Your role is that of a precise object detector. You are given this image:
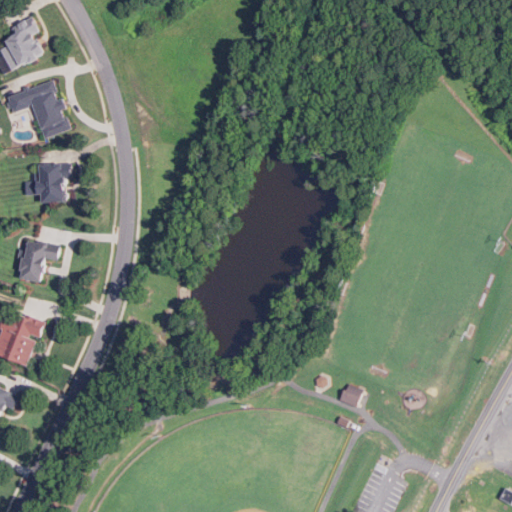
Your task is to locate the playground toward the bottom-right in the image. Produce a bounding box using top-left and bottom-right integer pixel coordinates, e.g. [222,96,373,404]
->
[402,388,426,411]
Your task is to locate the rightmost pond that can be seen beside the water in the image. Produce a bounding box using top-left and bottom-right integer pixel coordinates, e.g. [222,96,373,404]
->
[190,158,336,362]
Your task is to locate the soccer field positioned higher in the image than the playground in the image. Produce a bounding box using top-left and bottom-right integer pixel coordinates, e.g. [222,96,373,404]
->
[338,84,512,385]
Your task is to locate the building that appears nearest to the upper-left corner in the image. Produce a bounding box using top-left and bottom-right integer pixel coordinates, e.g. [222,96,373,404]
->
[0,16,46,74]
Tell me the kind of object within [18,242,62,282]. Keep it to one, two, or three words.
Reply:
house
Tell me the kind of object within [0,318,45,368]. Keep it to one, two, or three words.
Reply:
house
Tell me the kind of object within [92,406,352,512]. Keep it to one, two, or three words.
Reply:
baseball field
